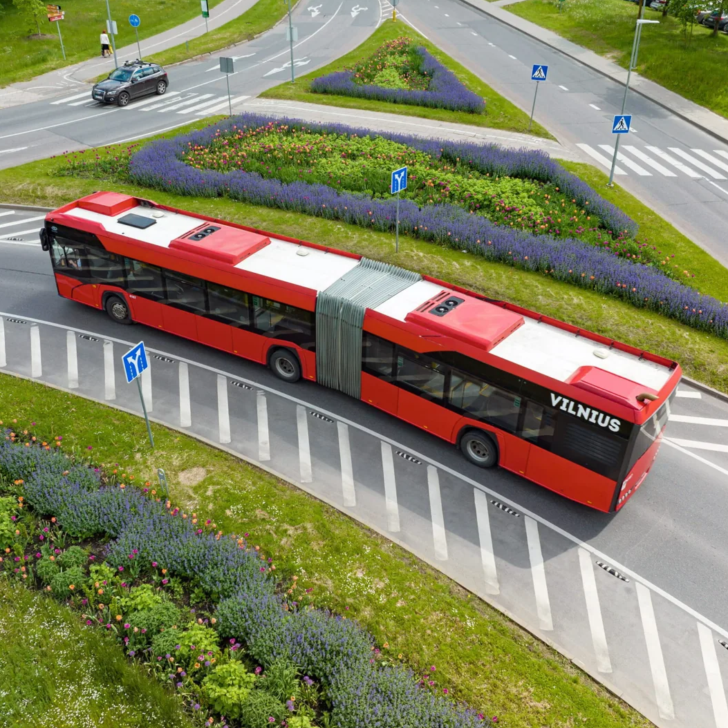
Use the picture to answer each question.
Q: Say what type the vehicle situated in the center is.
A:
bus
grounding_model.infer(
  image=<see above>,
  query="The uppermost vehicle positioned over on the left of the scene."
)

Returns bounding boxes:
[87,58,167,107]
